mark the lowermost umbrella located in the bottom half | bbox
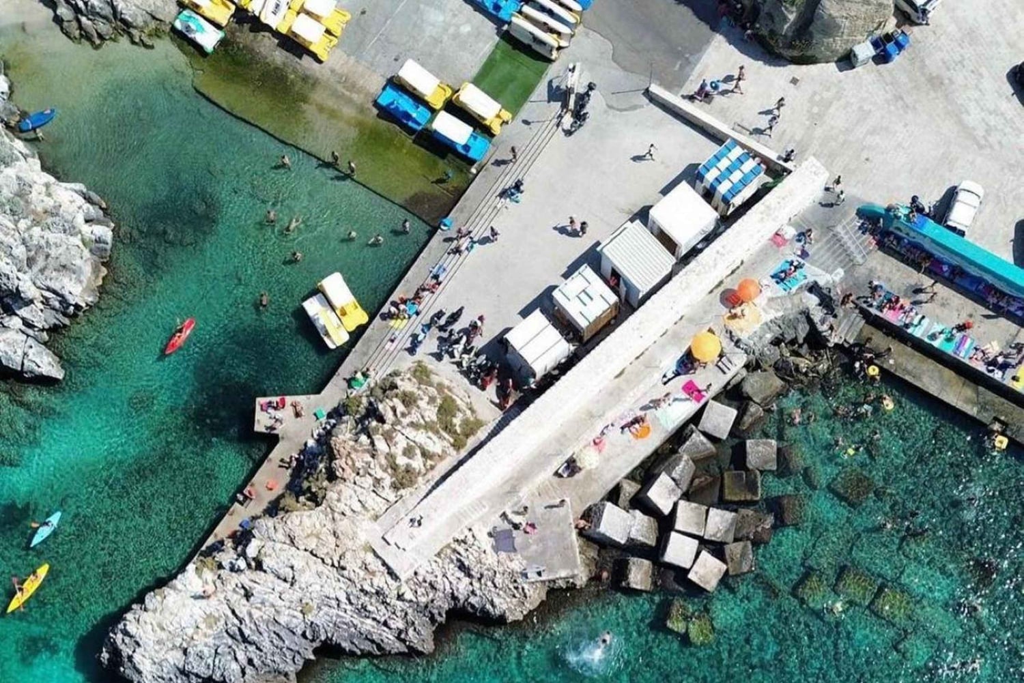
[574,444,600,471]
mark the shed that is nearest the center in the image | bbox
[505,309,570,382]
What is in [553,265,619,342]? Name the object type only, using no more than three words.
shed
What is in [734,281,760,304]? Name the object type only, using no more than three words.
umbrella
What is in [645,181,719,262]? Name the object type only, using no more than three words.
shed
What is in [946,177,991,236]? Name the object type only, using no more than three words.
car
